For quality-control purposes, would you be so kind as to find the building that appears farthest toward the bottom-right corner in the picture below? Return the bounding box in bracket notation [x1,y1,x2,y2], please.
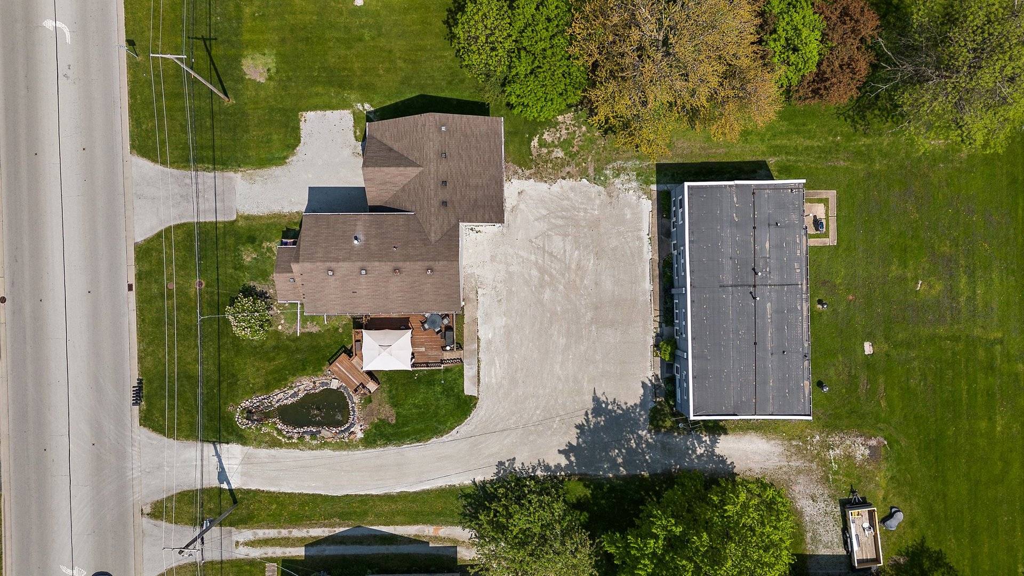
[672,179,813,419]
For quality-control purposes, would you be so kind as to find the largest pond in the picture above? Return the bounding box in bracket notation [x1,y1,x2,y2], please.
[237,372,363,441]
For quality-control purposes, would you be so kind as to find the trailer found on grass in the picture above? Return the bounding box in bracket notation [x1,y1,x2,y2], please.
[840,486,883,569]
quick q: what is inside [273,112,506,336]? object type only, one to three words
house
